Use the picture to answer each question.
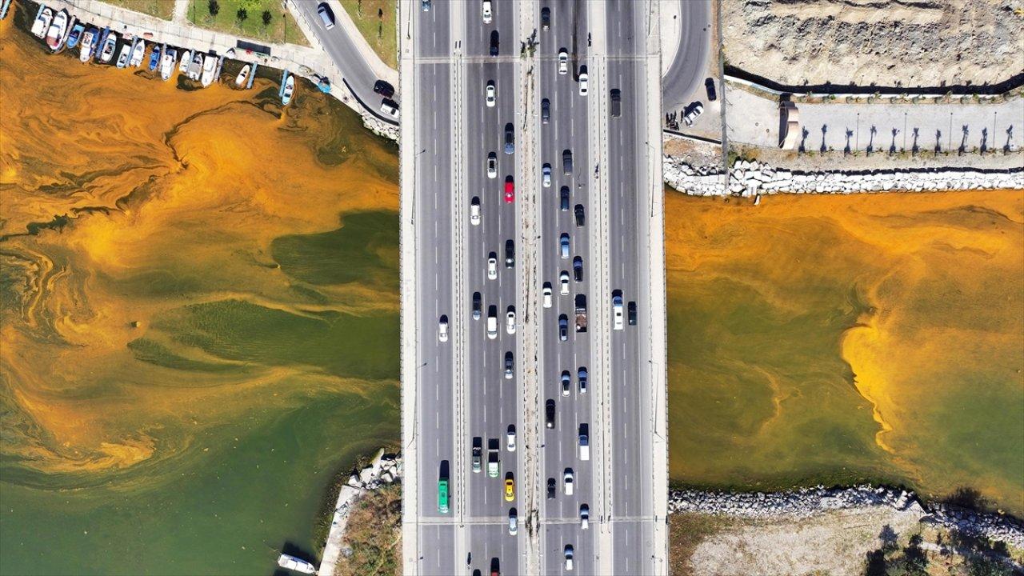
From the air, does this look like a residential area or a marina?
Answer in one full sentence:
It's a marina.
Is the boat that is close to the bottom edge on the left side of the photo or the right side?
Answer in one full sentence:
You can find the boat that is close to the bottom edge on the left side of the picture.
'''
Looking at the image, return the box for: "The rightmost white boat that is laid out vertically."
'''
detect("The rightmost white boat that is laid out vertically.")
[283,75,296,105]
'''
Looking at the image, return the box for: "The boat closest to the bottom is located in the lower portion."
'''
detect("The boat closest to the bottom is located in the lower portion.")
[278,554,317,574]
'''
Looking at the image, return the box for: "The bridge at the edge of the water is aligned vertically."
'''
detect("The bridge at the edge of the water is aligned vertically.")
[398,0,669,576]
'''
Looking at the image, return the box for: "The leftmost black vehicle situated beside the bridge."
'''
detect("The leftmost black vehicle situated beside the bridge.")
[374,81,395,97]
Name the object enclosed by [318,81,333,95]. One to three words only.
boat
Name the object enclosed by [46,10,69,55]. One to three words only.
boat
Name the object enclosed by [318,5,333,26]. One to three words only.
car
